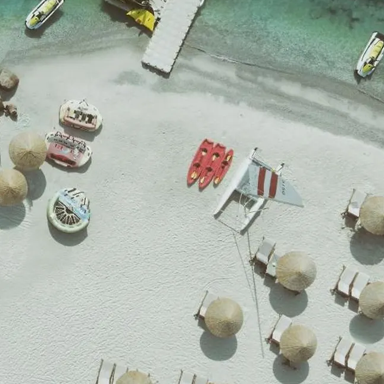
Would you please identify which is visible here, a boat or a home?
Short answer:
boat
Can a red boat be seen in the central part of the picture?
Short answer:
Yes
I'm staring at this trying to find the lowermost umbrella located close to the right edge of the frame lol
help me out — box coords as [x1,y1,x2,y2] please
[353,349,384,384]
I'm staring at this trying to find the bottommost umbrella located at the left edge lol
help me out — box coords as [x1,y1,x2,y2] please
[0,167,28,209]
